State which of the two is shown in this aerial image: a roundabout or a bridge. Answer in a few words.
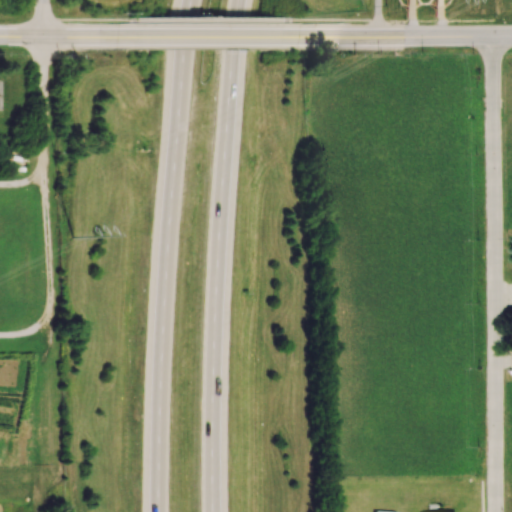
bridge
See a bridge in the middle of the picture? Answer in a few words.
No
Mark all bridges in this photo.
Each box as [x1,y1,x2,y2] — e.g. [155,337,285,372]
[131,17,290,50]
